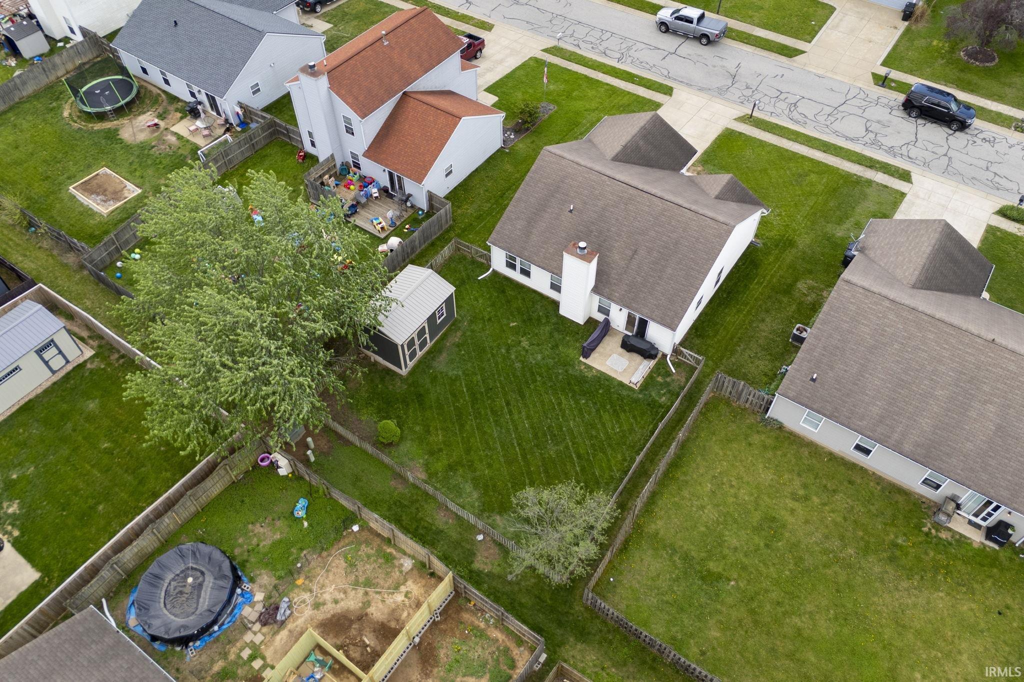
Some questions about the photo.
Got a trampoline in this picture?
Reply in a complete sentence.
Yes, a trampoline is visible in the scene.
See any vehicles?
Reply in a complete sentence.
Yes, there is a vehicle in the image.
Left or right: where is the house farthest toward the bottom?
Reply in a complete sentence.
You can find the house farthest toward the bottom on the left side of the picture.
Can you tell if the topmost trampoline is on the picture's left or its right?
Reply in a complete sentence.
It is on the left.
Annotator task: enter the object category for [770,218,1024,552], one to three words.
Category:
house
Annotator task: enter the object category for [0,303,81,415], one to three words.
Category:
shed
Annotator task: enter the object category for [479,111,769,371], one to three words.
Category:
house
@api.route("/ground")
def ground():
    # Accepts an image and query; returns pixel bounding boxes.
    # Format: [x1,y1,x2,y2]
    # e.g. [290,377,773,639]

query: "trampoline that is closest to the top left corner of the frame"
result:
[65,53,140,124]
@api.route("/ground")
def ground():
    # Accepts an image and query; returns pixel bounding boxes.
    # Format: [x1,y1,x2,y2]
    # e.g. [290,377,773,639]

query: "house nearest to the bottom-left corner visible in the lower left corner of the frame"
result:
[0,599,183,682]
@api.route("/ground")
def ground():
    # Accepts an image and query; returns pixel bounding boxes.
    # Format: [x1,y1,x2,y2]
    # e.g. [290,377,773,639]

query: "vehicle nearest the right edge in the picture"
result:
[899,83,980,133]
